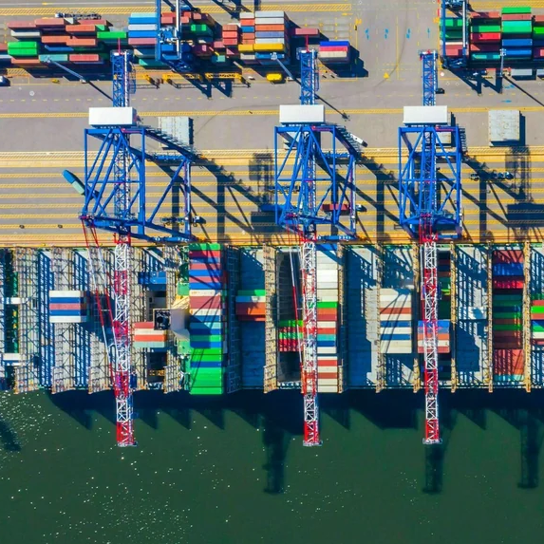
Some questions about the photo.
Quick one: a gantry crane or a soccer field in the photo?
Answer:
gantry crane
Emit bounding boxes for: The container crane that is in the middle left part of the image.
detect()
[73,49,210,449]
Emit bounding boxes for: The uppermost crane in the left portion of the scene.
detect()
[154,0,202,63]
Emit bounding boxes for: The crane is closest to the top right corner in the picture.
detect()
[441,0,473,65]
